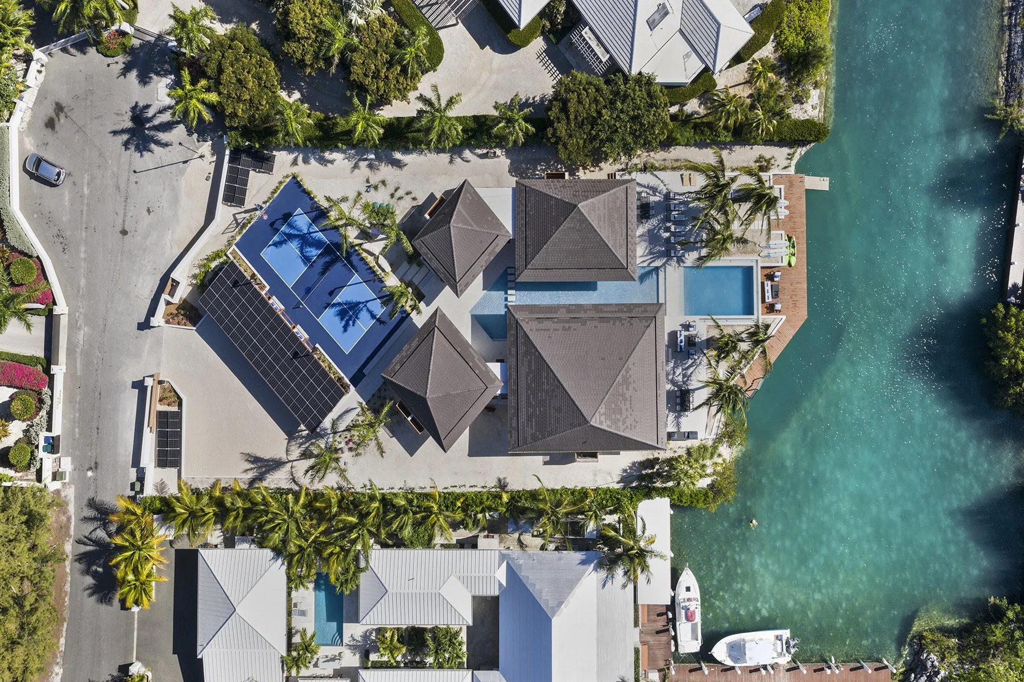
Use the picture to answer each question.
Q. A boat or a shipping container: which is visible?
boat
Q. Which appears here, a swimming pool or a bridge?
swimming pool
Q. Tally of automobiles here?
1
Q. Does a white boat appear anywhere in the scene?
Yes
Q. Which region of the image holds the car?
top left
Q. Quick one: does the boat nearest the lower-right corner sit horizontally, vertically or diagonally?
horizontally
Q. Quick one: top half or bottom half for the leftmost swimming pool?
bottom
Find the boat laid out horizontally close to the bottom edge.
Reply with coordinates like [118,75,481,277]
[706,634,800,665]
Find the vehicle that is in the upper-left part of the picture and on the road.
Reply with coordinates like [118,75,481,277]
[27,156,69,185]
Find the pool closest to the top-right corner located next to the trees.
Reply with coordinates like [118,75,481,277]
[684,266,753,316]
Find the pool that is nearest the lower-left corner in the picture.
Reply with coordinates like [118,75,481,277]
[315,573,343,646]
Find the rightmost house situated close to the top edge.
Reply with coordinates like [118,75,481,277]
[570,0,754,88]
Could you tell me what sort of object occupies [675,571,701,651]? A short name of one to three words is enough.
boat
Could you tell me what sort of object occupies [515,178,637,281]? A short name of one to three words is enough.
house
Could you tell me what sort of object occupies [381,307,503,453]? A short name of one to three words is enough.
house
